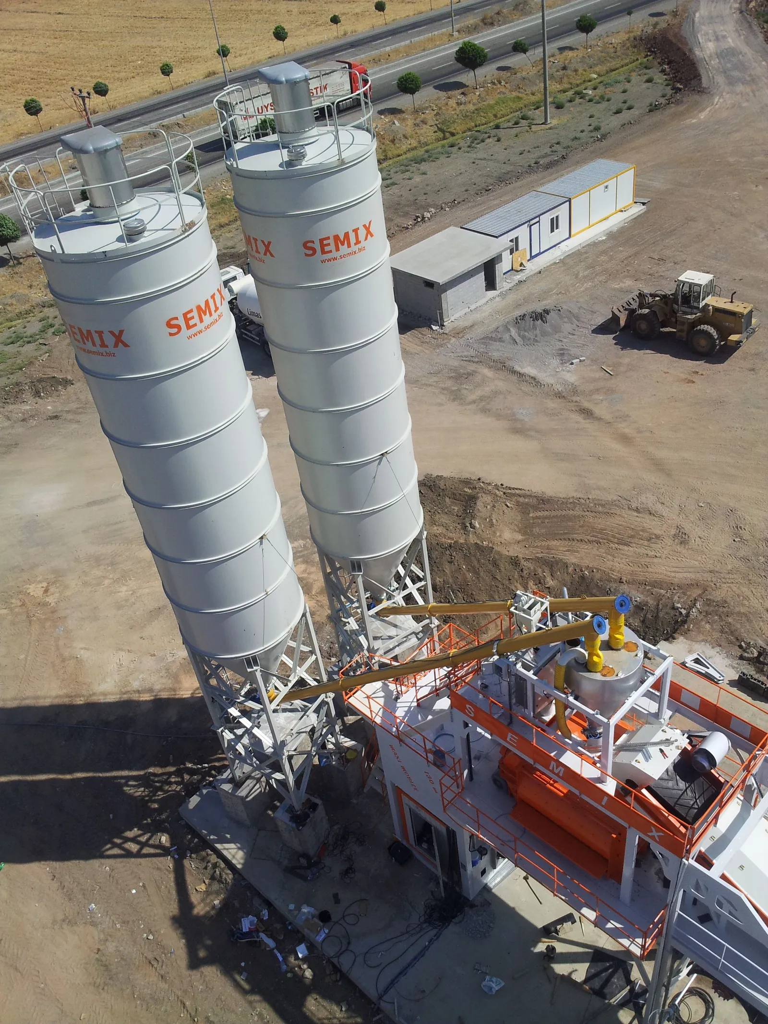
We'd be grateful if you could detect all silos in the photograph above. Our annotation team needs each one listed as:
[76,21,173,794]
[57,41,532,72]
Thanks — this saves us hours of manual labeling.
[3,126,349,816]
[208,61,455,684]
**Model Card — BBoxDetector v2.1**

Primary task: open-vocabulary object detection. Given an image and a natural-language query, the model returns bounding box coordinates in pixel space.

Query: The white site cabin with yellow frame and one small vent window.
[538,158,635,236]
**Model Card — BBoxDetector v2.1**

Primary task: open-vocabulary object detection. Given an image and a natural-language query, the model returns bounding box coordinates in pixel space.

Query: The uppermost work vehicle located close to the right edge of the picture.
[591,270,760,357]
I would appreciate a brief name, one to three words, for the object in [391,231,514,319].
shed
